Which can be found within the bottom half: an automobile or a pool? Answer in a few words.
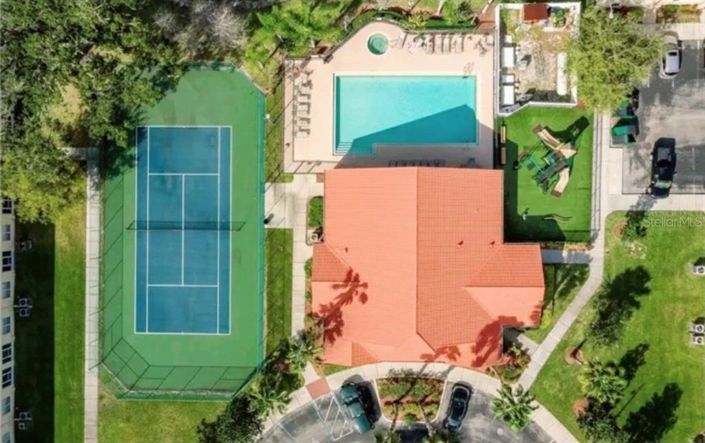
automobile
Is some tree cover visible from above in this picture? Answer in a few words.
Yes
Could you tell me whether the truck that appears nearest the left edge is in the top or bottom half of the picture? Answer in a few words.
bottom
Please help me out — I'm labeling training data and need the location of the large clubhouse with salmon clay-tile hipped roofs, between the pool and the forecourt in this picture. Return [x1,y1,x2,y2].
[312,165,545,371]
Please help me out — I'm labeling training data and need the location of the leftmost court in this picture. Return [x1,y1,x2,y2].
[102,68,265,393]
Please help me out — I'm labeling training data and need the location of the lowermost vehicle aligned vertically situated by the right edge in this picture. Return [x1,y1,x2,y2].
[653,139,679,194]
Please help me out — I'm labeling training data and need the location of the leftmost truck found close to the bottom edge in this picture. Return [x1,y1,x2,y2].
[340,382,374,434]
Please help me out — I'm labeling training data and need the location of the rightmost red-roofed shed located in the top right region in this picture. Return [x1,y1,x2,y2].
[518,5,549,26]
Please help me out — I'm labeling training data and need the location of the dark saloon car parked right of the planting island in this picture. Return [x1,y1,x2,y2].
[448,385,472,430]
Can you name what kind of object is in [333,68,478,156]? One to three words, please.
swimming pool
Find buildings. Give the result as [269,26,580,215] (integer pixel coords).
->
[0,185,30,443]
[312,165,545,371]
[518,5,549,26]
